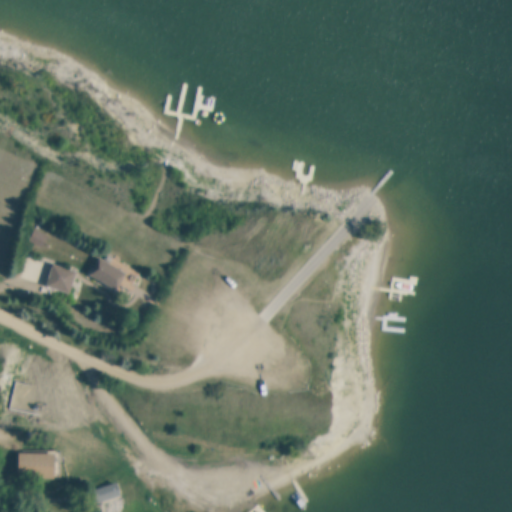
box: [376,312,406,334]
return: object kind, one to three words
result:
pier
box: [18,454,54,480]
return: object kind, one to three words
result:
house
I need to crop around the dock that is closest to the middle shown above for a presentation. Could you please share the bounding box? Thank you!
[292,160,316,195]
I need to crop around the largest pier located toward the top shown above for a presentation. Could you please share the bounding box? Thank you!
[164,84,215,142]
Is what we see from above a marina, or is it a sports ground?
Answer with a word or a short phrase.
marina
